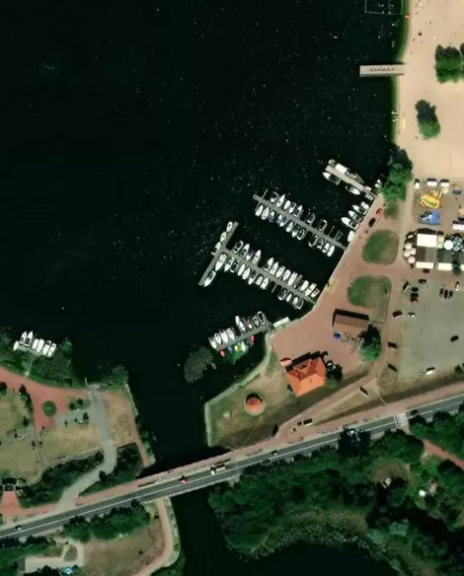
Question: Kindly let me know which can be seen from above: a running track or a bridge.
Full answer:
The one in the frame is a bridge.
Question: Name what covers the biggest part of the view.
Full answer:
Most of the picture is covered by water.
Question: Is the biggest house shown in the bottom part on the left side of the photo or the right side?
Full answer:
The biggest house shown in the bottom part sits on the right side.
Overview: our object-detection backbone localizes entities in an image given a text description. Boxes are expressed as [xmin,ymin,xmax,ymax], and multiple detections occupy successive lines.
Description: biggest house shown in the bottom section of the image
[287,356,326,397]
